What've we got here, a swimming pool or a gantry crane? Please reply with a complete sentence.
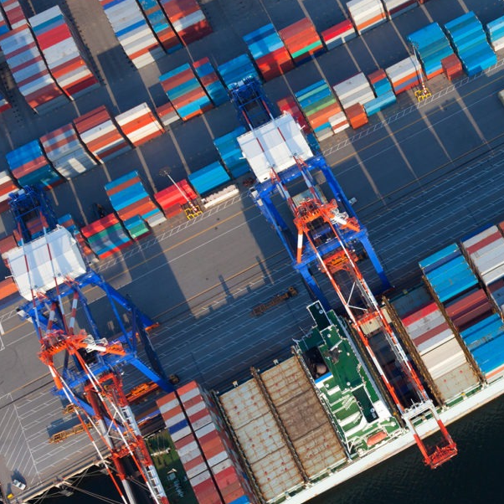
Looking from above, you can make out a gantry crane.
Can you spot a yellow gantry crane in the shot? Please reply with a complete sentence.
No, there appears to be no yellow gantry crane in this shot.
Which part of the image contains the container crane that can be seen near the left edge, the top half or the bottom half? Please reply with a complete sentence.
The container crane that can be seen near the left edge is in the bottom half of the image.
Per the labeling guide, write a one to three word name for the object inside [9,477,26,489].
vehicle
